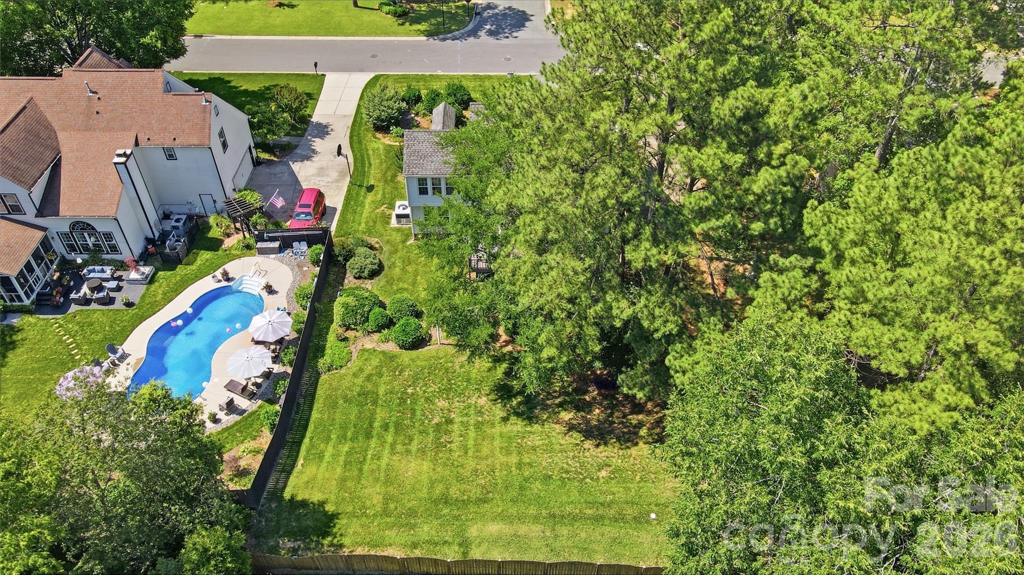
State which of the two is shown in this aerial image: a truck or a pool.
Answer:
pool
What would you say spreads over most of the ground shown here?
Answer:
trees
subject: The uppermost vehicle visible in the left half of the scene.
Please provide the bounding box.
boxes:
[291,192,329,228]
